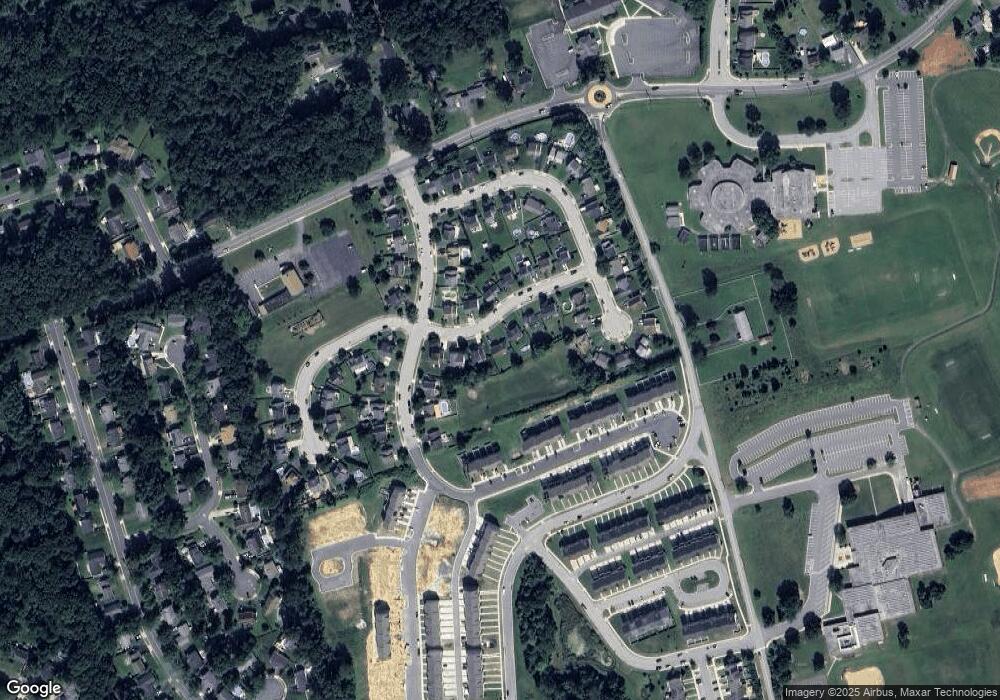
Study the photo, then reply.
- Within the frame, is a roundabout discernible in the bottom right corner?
No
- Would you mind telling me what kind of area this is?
residential area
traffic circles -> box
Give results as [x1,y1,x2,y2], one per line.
[577,78,622,122]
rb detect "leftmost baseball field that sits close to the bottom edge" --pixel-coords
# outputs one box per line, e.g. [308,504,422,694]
[843,666,884,700]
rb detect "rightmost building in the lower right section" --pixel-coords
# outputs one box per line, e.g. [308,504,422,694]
[823,492,952,660]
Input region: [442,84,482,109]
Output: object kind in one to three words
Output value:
house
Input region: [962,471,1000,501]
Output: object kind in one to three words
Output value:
baseball field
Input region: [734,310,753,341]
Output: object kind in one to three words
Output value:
barn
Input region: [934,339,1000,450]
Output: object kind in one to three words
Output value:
sports field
